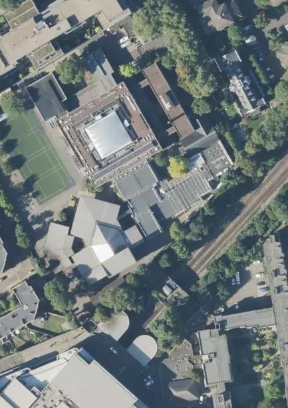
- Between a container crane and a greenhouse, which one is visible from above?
greenhouse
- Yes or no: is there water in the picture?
No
